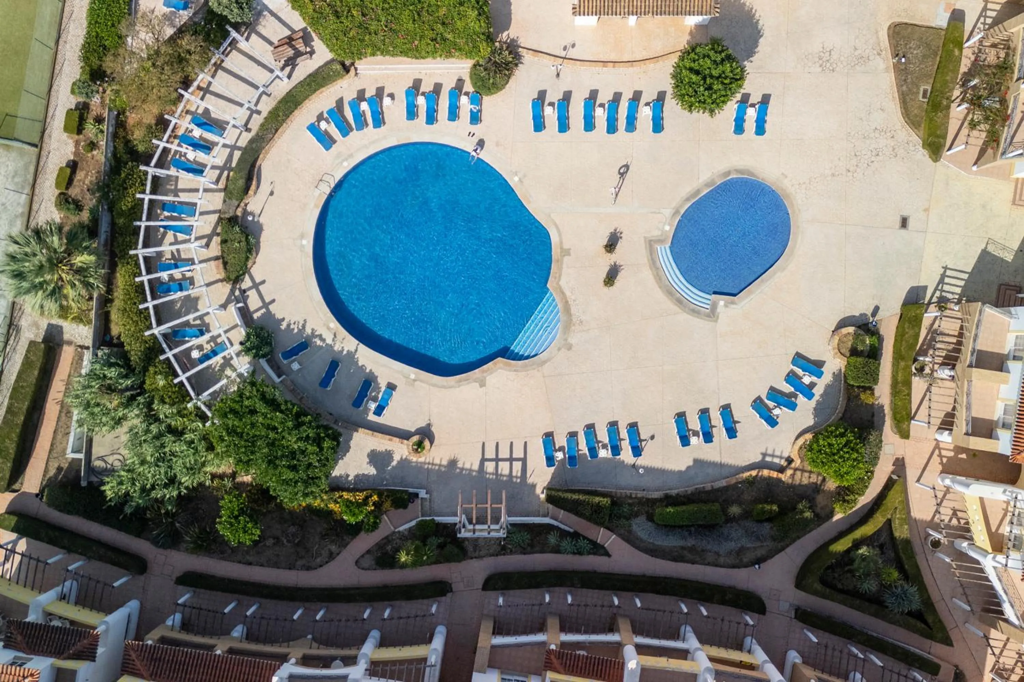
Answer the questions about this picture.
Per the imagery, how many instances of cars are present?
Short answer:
zero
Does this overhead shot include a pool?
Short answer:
Yes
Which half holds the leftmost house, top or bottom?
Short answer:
bottom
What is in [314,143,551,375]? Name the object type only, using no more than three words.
swimming pool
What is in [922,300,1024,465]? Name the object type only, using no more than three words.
house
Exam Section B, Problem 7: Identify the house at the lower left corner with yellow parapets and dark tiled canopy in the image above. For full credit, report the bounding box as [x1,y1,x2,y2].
[0,573,154,682]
